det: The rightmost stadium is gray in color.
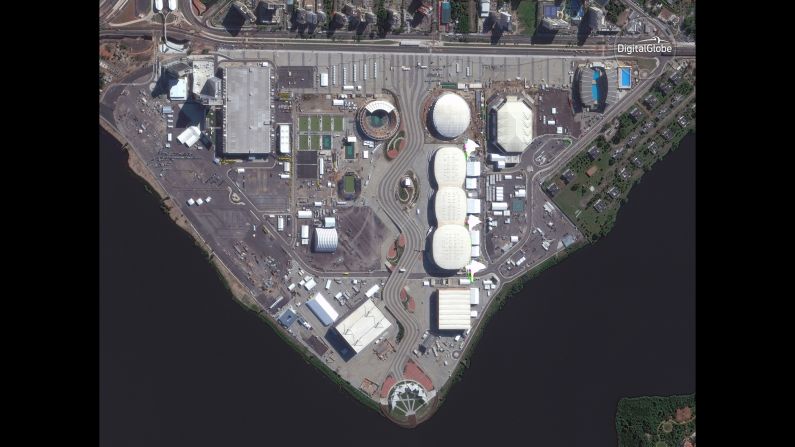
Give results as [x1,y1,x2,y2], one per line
[575,63,617,111]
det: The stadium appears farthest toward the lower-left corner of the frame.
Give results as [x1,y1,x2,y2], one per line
[335,299,391,355]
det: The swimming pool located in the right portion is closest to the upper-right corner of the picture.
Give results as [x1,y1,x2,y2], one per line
[618,65,631,88]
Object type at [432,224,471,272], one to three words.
stadium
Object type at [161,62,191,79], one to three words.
building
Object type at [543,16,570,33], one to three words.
building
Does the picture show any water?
Yes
